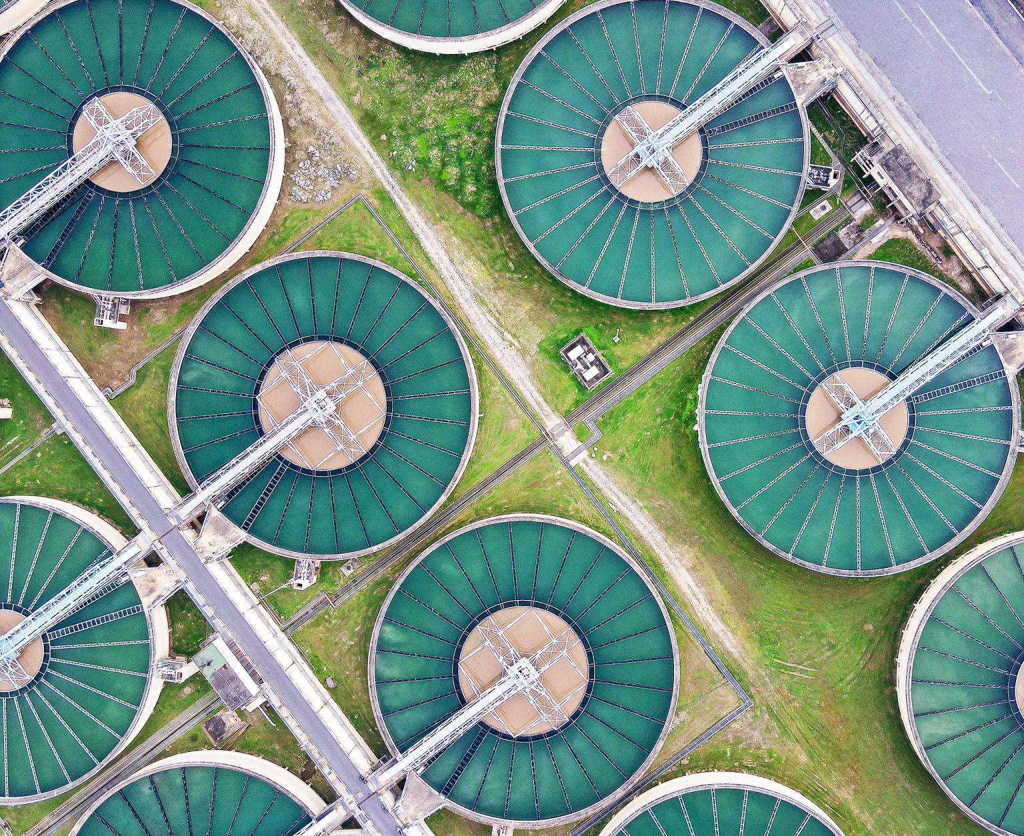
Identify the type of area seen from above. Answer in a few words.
industrial area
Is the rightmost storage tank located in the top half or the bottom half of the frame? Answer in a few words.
bottom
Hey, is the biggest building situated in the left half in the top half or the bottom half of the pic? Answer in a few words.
bottom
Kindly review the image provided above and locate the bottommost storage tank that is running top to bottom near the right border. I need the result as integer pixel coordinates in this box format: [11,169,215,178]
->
[894,534,1024,836]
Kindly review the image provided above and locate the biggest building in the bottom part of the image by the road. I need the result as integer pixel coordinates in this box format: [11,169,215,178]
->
[191,634,263,712]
